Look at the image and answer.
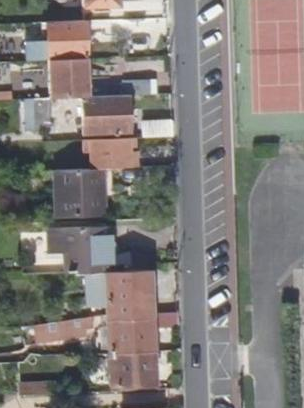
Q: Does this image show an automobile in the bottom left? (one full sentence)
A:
No, no automobile appears in the bottom left.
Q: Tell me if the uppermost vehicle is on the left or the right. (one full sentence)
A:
It is on the right.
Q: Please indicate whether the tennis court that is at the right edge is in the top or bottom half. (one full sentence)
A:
The top half of the photo is where the tennis court that is at the right edge is.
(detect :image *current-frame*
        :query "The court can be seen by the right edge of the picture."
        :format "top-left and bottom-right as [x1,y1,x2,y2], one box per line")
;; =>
[236,0,304,148]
